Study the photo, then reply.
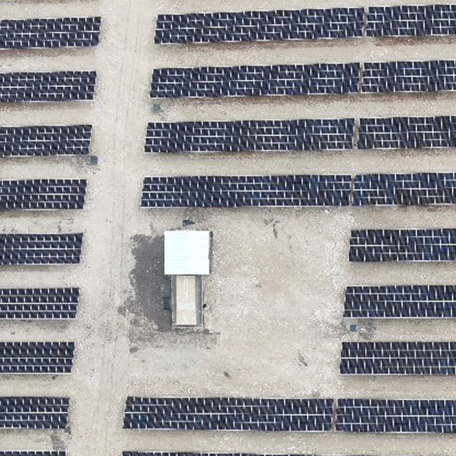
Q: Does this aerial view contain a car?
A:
No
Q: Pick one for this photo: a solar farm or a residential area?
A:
solar farm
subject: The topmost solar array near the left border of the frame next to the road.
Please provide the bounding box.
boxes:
[0,16,102,49]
